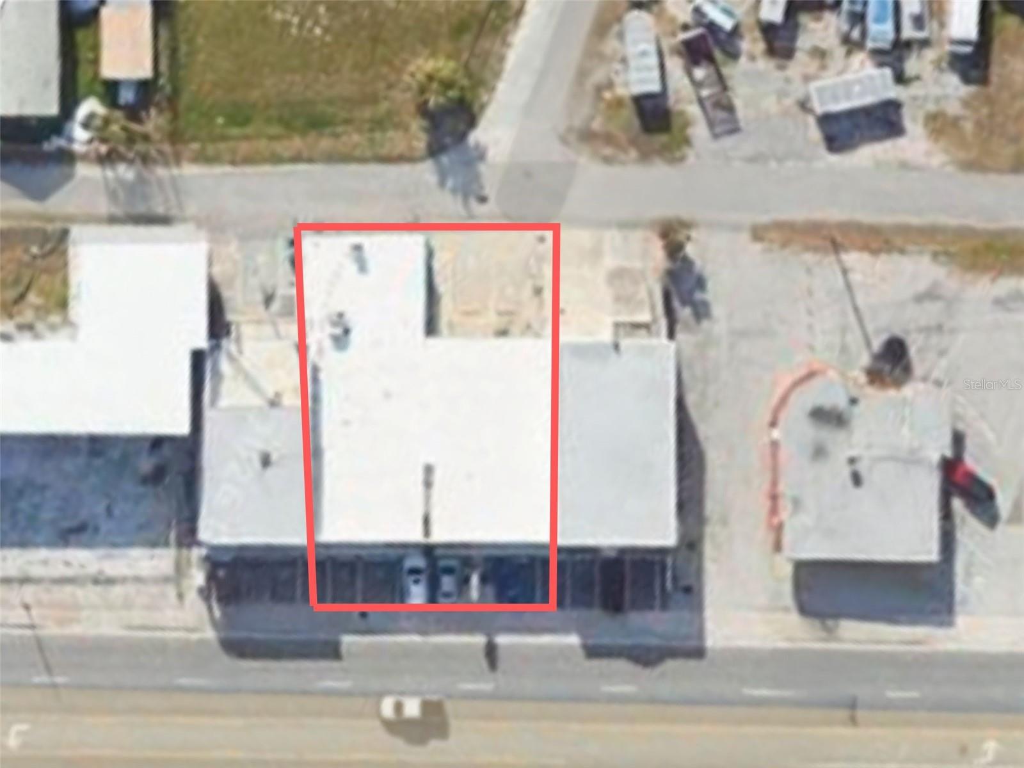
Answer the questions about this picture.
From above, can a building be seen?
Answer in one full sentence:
Yes, the photo shows a building.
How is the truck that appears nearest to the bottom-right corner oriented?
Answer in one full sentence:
Seen from above, the truck that appears nearest to the bottom-right corner lies on a diagonal.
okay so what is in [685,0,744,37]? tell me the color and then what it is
white vehicle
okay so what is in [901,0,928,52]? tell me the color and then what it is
white trailer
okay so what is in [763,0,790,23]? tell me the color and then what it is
white camper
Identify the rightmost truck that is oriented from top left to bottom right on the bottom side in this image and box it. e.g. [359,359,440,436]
[942,453,998,518]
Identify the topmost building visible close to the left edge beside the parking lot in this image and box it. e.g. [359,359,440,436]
[0,227,209,437]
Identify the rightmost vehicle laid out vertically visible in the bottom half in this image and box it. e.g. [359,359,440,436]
[600,554,627,612]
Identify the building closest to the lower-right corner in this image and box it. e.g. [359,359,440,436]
[769,363,954,564]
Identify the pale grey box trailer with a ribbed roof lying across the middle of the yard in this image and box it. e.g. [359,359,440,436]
[800,69,894,112]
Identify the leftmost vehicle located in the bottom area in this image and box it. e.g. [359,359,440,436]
[210,554,236,606]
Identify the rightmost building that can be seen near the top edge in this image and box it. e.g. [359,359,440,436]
[100,0,153,104]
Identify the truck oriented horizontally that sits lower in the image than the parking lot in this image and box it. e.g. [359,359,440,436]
[380,696,445,722]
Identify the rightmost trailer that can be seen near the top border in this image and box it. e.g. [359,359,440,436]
[952,0,980,47]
